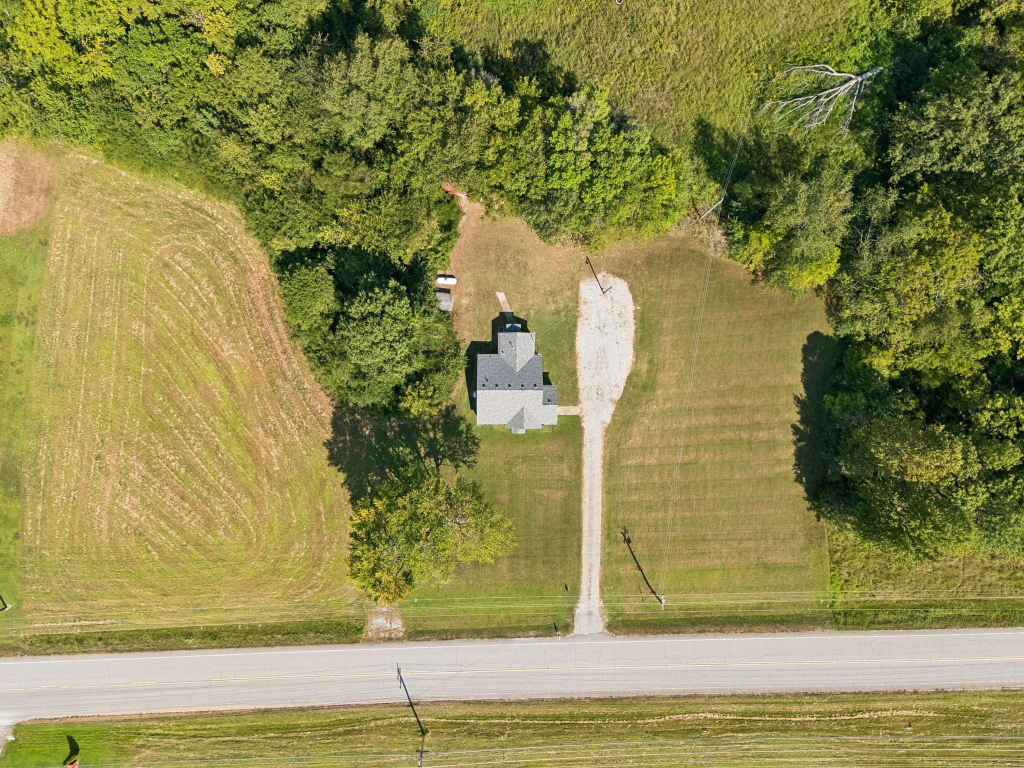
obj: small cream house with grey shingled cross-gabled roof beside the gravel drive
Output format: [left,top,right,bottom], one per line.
[476,324,559,433]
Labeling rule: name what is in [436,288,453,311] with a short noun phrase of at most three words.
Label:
shed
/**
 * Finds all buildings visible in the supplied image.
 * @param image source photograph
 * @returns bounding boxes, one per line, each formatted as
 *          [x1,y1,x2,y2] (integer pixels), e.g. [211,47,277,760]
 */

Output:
[436,288,453,311]
[476,324,559,433]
